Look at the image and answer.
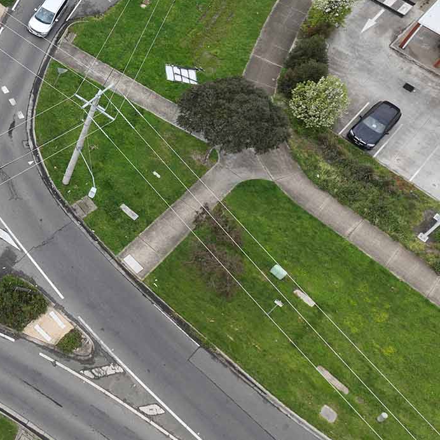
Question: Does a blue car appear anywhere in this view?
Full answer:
No, I find no blue car anywhere in the image.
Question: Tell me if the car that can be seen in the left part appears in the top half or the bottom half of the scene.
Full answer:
The car that can be seen in the left part sits in the top half of the picture.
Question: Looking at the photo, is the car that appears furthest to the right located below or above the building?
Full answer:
The car that appears furthest to the right is below the building.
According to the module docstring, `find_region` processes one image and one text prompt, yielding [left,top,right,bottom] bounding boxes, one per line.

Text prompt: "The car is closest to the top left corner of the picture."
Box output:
[29,0,70,38]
